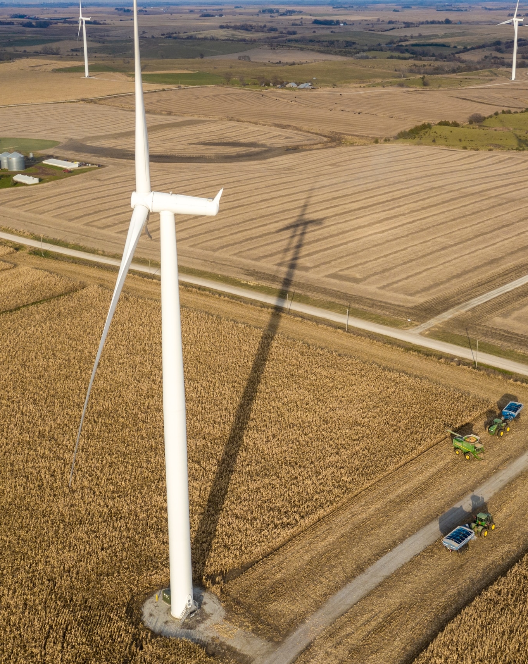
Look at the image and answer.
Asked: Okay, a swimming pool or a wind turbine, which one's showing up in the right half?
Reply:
wind turbine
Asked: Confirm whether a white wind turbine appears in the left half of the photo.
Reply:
Yes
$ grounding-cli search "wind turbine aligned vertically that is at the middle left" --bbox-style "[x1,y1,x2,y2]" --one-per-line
[65,0,217,634]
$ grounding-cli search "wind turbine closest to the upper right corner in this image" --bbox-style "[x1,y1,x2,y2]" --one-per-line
[500,0,525,81]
